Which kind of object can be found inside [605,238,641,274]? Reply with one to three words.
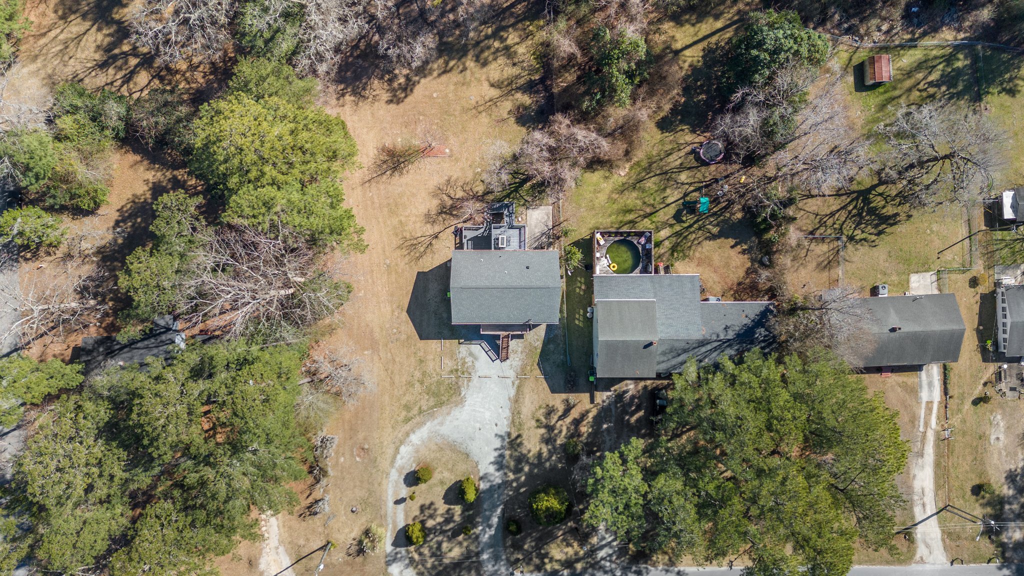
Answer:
swimming pool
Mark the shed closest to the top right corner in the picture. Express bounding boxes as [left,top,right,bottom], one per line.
[859,54,890,86]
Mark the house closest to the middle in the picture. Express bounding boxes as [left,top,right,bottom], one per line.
[450,202,561,359]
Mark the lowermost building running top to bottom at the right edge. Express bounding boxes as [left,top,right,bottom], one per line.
[992,284,1024,356]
